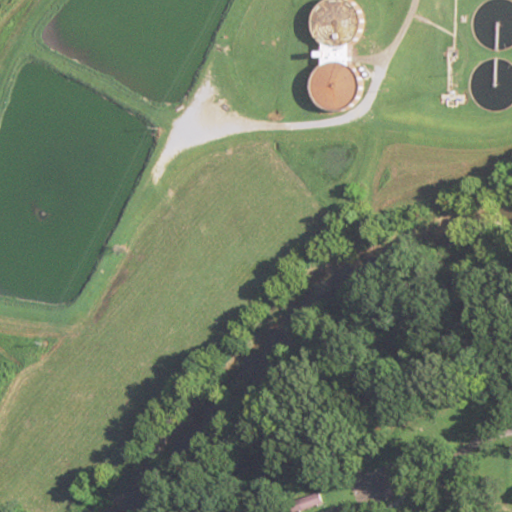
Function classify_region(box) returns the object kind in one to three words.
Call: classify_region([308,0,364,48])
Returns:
storage tank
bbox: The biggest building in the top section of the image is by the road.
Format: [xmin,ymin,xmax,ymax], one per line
[311,42,352,66]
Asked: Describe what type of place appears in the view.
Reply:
industrial area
